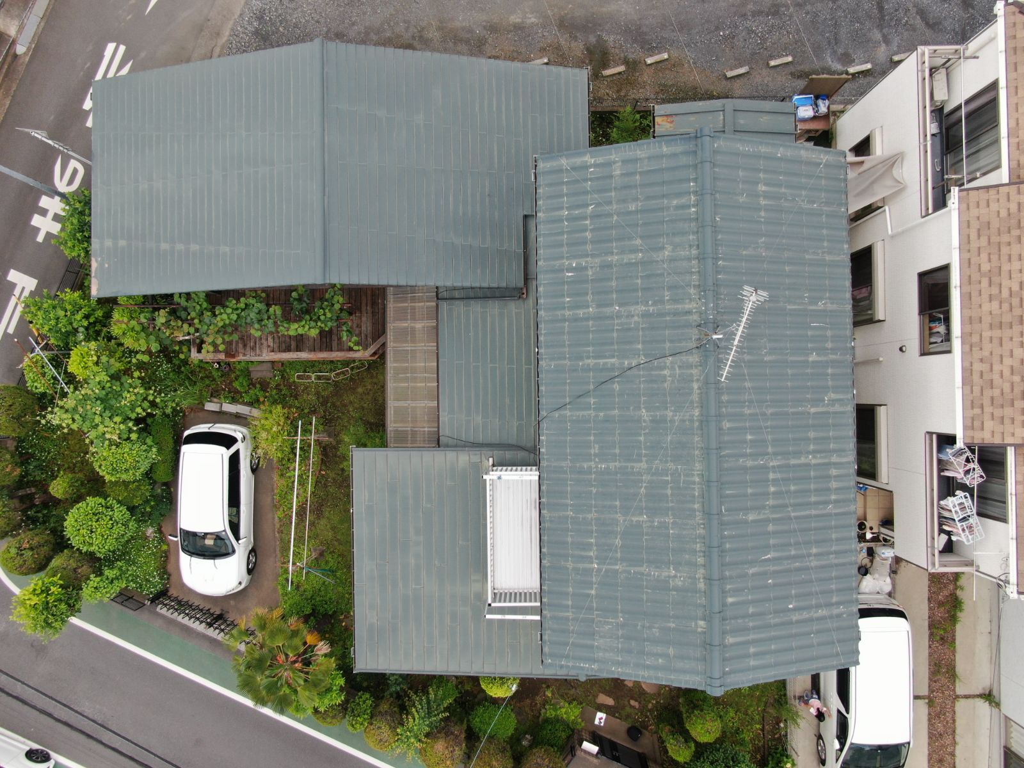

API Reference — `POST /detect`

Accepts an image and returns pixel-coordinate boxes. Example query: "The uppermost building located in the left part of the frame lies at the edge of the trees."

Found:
[89,33,593,299]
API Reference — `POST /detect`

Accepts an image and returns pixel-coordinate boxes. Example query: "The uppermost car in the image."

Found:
[164,422,262,596]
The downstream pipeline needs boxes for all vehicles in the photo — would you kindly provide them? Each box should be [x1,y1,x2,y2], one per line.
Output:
[813,591,916,768]
[164,422,262,596]
[0,733,57,768]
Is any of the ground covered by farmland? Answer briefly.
No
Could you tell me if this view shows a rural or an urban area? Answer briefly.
urban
